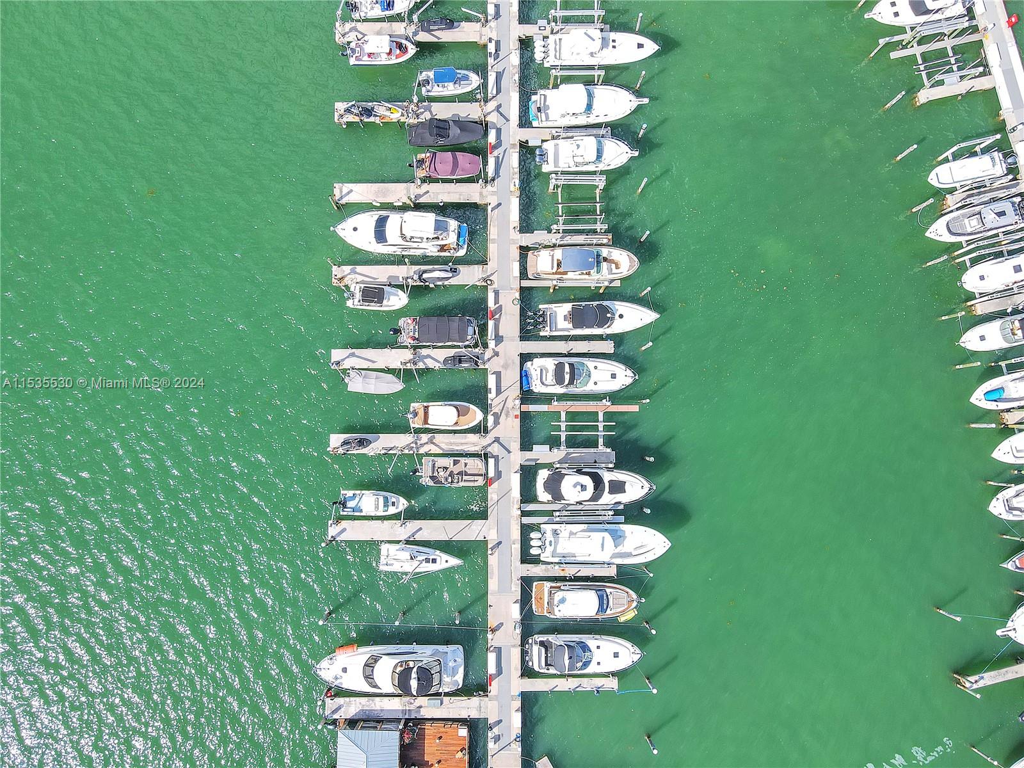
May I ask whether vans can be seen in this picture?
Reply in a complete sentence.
No, the picture doesn't show any van.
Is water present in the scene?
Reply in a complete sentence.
Yes, there is water in the image.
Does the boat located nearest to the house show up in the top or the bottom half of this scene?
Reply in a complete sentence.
The boat located nearest to the house is in the bottom half of the image.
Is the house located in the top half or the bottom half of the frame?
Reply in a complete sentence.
The house is in the bottom half of the image.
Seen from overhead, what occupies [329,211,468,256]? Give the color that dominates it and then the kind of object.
white boat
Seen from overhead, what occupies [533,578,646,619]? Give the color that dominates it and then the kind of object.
white boat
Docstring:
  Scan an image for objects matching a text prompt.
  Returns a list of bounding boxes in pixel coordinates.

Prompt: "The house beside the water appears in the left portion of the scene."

[337,719,405,768]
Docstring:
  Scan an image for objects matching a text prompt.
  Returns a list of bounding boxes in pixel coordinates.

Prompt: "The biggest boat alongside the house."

[308,639,464,697]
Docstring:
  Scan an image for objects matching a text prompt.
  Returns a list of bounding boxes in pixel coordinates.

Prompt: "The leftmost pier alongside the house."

[326,692,488,719]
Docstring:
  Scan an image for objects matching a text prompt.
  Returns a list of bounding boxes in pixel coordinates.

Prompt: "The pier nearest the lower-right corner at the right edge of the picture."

[961,661,1024,690]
